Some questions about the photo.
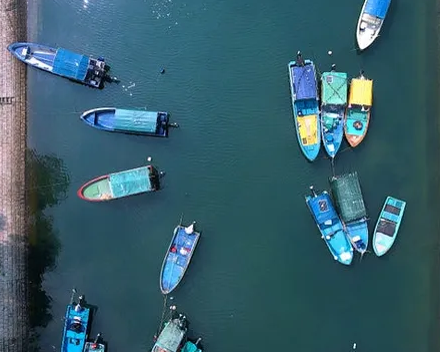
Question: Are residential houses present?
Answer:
No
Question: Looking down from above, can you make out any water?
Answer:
Yes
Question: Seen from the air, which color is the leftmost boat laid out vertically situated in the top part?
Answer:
blue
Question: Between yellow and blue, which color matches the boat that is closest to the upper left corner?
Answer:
blue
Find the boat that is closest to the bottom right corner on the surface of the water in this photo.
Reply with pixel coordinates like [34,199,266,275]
[374,197,406,257]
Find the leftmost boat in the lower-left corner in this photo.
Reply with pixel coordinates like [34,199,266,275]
[63,289,89,352]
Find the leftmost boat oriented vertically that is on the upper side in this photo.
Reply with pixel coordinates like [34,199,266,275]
[290,53,322,162]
